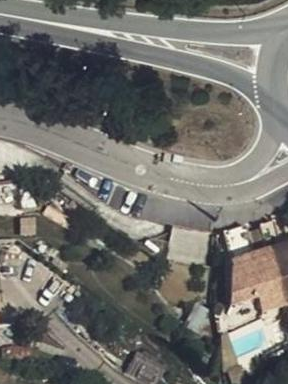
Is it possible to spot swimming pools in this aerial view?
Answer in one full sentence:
Yes, the frame does contain a swimming pool.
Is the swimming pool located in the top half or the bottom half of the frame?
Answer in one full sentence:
The bottom half of the photo is where the swimming pool is.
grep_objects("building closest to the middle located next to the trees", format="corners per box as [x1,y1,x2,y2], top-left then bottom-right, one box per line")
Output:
[167,227,210,265]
